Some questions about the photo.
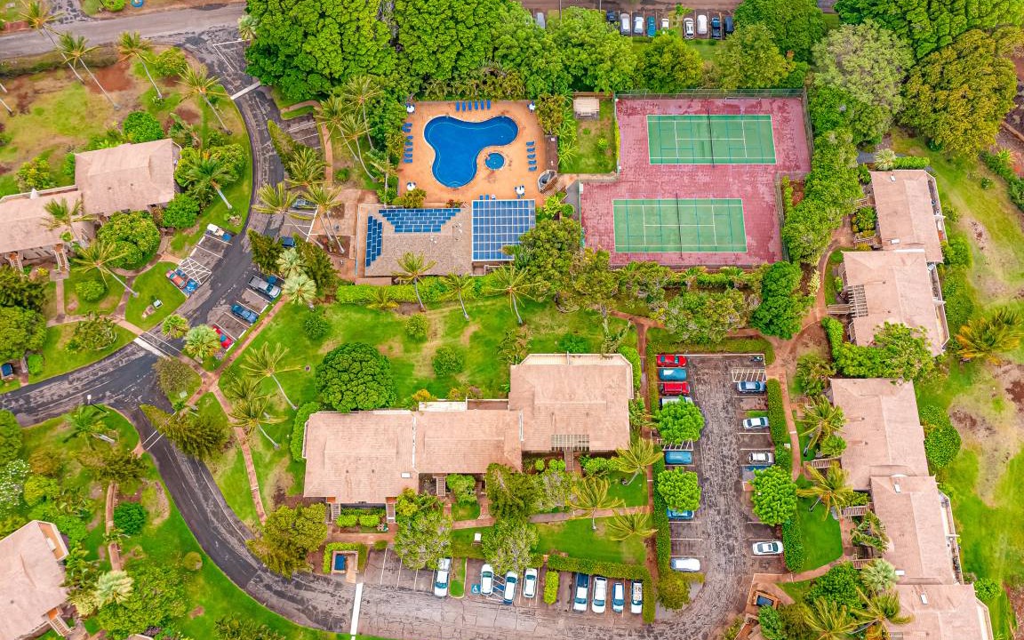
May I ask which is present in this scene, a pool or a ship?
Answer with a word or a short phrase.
pool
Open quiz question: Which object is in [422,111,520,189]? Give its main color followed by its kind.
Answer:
blue swimming pool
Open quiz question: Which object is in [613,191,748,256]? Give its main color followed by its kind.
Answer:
green tennis court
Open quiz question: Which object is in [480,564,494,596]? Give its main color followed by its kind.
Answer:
white car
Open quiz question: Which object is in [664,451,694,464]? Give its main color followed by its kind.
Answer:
blue vehicle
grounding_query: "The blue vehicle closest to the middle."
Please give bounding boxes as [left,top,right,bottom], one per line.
[659,367,687,381]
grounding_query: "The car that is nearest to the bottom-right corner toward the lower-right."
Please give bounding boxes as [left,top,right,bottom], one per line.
[752,540,783,555]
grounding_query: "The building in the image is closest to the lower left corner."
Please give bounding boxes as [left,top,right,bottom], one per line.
[0,520,82,640]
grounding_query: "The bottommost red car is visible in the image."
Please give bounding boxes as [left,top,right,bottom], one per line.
[661,383,689,395]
